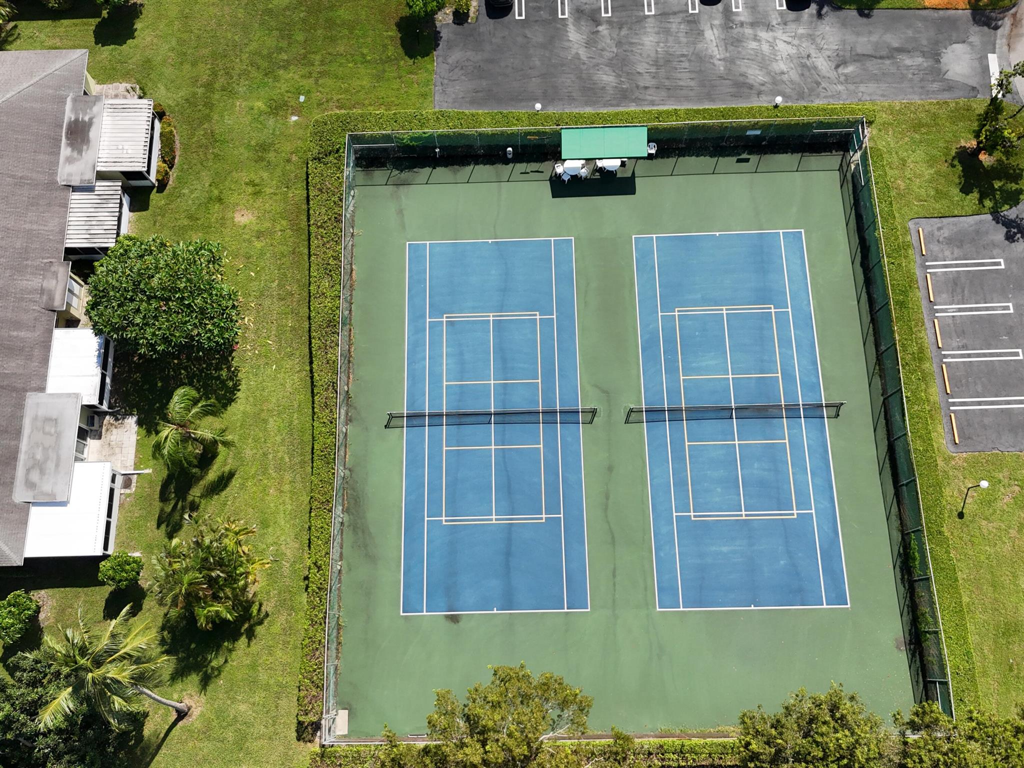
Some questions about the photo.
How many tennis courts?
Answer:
two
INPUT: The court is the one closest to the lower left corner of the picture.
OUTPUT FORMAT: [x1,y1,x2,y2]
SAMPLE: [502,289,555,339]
[401,237,589,614]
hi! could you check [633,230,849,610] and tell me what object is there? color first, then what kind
blue tennis court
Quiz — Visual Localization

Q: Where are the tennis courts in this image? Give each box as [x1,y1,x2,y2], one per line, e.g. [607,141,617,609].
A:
[633,230,849,610]
[401,237,589,614]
